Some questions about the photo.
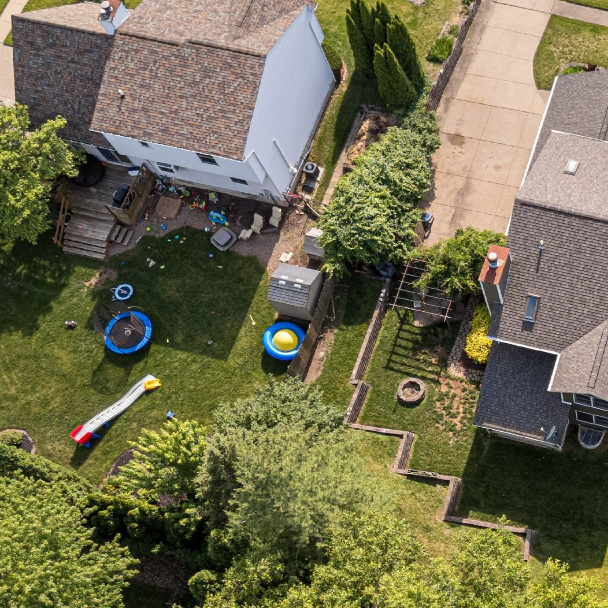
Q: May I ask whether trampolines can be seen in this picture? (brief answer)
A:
Yes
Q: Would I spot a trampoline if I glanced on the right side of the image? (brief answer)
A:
No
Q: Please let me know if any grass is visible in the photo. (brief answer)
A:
Yes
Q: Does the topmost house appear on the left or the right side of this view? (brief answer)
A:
left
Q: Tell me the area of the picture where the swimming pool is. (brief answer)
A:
center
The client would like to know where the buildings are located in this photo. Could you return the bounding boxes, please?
[473,64,608,460]
[265,261,321,318]
[13,0,342,208]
